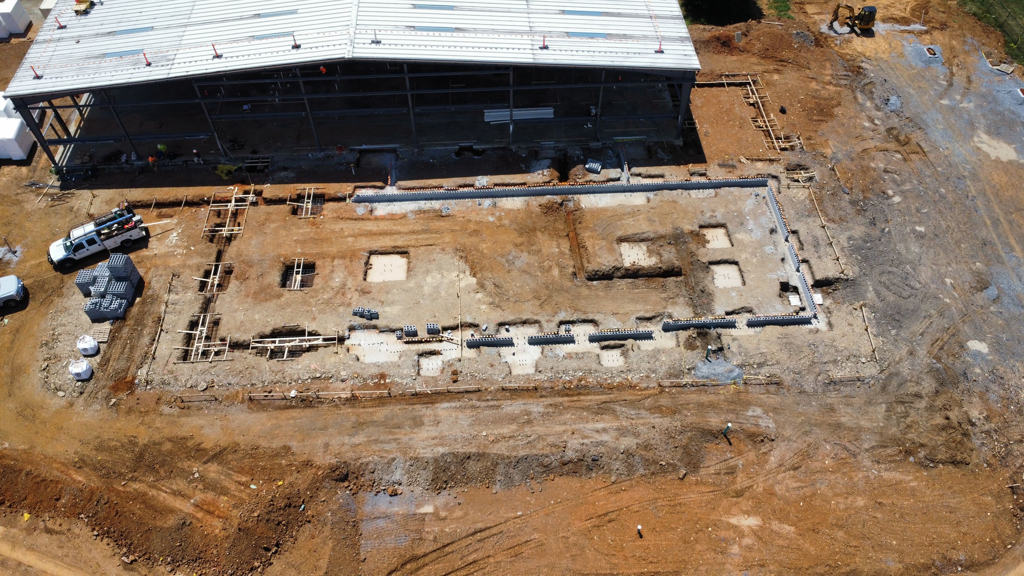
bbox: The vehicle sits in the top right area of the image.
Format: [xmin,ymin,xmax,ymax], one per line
[826,3,879,40]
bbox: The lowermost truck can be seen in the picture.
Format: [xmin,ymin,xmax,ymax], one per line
[0,280,30,311]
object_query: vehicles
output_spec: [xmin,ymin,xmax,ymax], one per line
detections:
[41,204,151,269]
[826,3,879,40]
[0,280,30,311]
